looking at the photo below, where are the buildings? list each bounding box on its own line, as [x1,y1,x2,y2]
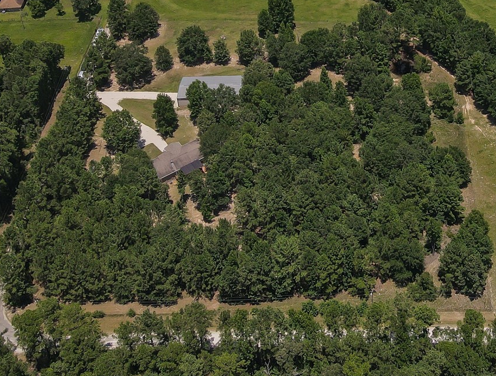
[0,0,23,17]
[150,142,208,186]
[177,75,245,110]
